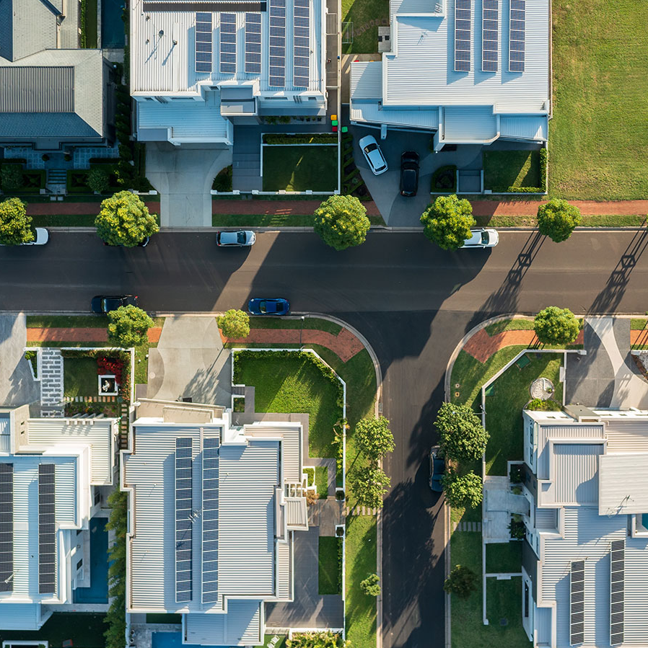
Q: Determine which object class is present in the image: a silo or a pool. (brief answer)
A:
pool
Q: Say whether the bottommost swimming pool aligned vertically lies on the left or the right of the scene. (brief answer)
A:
left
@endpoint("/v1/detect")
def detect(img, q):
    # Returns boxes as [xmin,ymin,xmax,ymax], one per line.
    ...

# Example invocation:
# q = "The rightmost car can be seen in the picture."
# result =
[455,229,498,248]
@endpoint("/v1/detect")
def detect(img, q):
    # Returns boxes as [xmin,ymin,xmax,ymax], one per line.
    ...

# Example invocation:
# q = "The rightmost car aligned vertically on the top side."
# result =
[399,150,419,197]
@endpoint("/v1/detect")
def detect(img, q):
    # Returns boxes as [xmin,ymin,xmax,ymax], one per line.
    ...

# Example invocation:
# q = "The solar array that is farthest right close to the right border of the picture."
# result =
[611,541,624,648]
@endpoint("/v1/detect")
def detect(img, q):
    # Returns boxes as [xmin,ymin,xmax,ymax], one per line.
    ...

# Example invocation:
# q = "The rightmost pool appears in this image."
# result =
[150,630,246,648]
